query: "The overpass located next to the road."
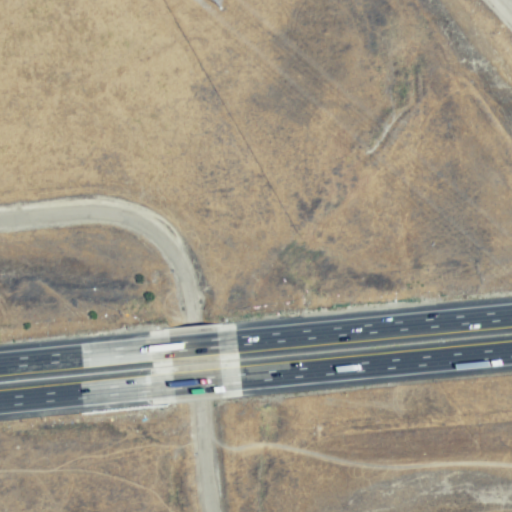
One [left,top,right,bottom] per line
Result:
[150,320,243,404]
